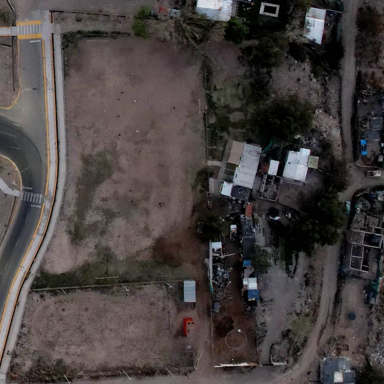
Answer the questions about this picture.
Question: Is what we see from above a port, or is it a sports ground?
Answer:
sports ground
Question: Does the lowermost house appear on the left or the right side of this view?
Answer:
right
